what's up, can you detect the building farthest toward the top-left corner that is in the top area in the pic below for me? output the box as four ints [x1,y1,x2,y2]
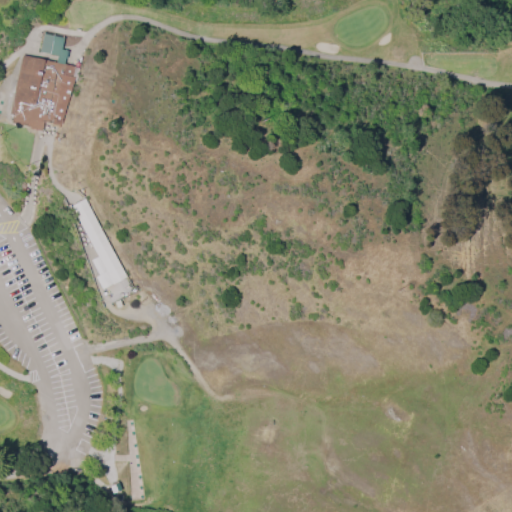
[42,32,70,64]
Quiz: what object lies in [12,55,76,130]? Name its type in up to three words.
building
